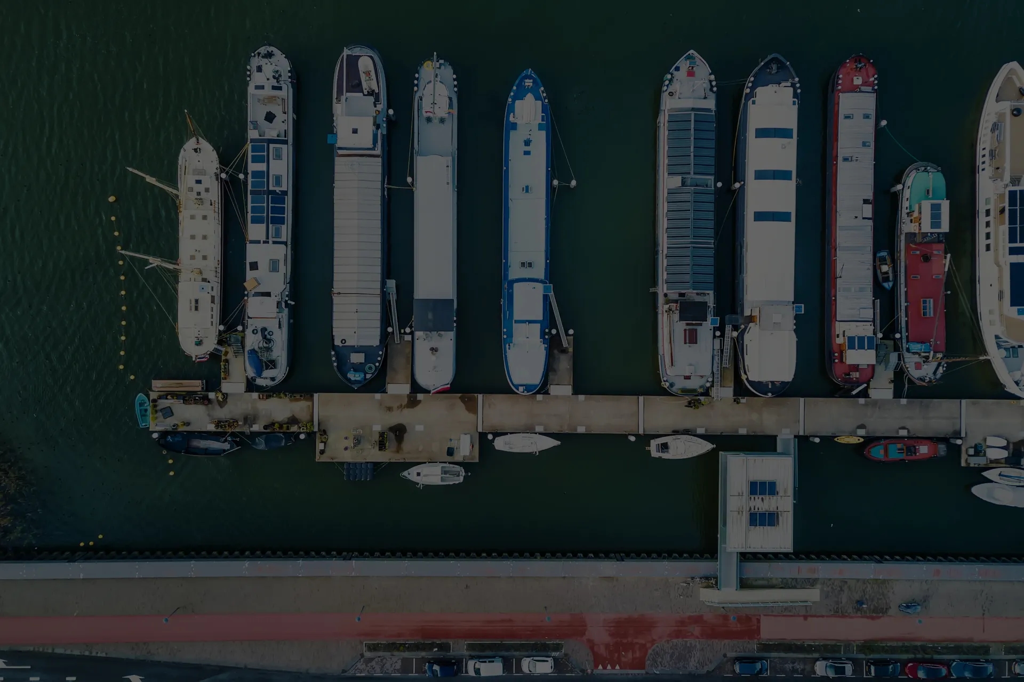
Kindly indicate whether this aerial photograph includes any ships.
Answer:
Yes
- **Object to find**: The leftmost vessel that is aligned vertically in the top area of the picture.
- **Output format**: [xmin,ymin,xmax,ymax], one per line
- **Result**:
[118,109,239,360]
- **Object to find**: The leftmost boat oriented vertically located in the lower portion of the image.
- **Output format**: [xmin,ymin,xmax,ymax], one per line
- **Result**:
[136,393,150,427]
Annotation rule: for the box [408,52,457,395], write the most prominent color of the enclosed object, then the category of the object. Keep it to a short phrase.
gray ship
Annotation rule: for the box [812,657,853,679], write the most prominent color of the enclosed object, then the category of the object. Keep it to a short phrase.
black car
